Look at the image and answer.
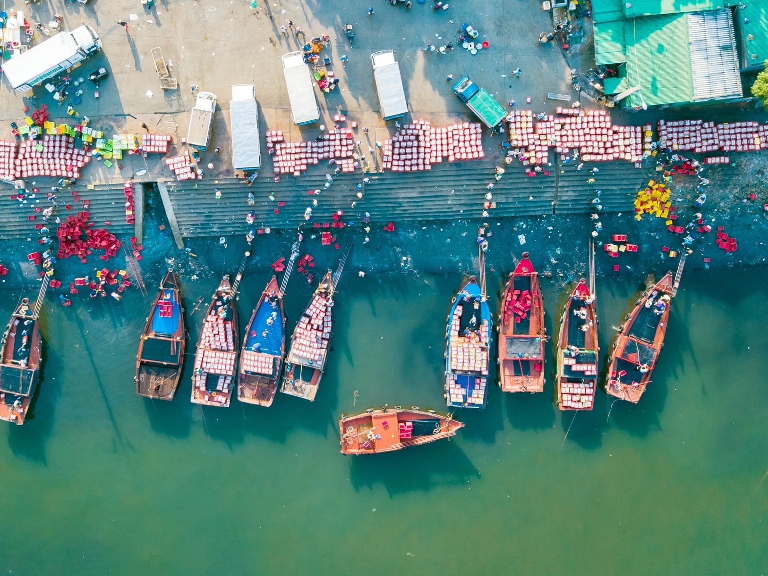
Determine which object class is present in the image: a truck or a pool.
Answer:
truck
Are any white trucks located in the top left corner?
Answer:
Yes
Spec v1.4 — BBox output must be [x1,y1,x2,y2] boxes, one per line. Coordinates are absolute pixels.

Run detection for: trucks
[277,51,322,136]
[187,91,223,158]
[226,85,263,176]
[366,50,409,129]
[447,74,507,137]
[2,23,111,94]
